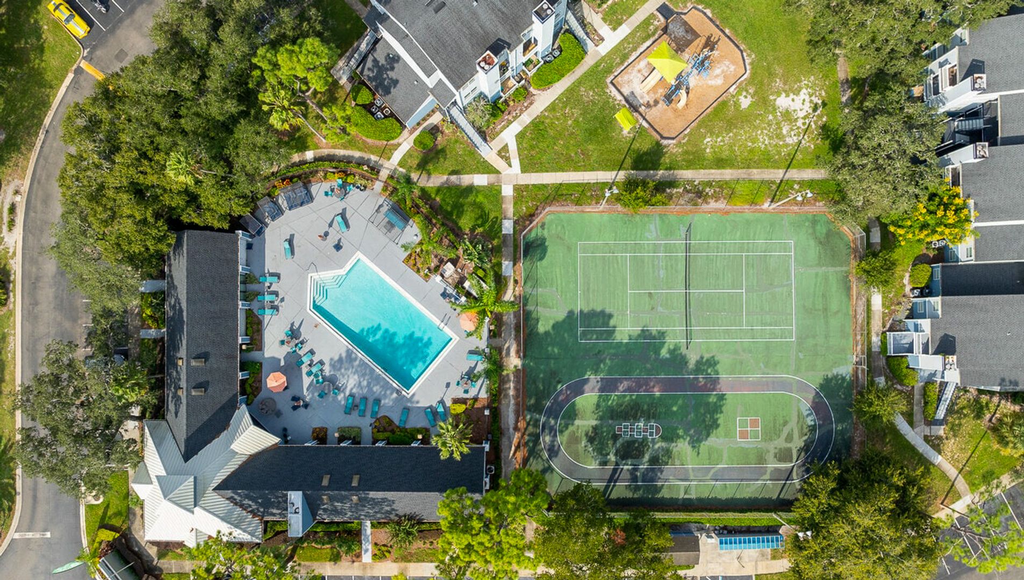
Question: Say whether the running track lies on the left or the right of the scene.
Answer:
right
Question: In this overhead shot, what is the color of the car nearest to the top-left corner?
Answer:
yellow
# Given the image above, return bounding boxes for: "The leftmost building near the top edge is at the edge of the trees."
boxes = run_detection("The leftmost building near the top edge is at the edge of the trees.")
[357,0,609,129]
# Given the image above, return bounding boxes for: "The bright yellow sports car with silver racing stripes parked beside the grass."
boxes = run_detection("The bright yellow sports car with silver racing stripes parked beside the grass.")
[46,0,93,42]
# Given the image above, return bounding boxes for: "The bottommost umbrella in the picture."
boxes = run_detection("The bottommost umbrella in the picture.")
[269,372,289,391]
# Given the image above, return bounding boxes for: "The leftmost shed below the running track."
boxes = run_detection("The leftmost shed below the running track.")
[659,531,699,565]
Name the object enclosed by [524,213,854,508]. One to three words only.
sports court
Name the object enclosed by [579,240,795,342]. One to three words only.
tennis court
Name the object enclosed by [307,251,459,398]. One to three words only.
swimming pool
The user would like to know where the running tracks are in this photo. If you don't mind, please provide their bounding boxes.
[541,376,835,484]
